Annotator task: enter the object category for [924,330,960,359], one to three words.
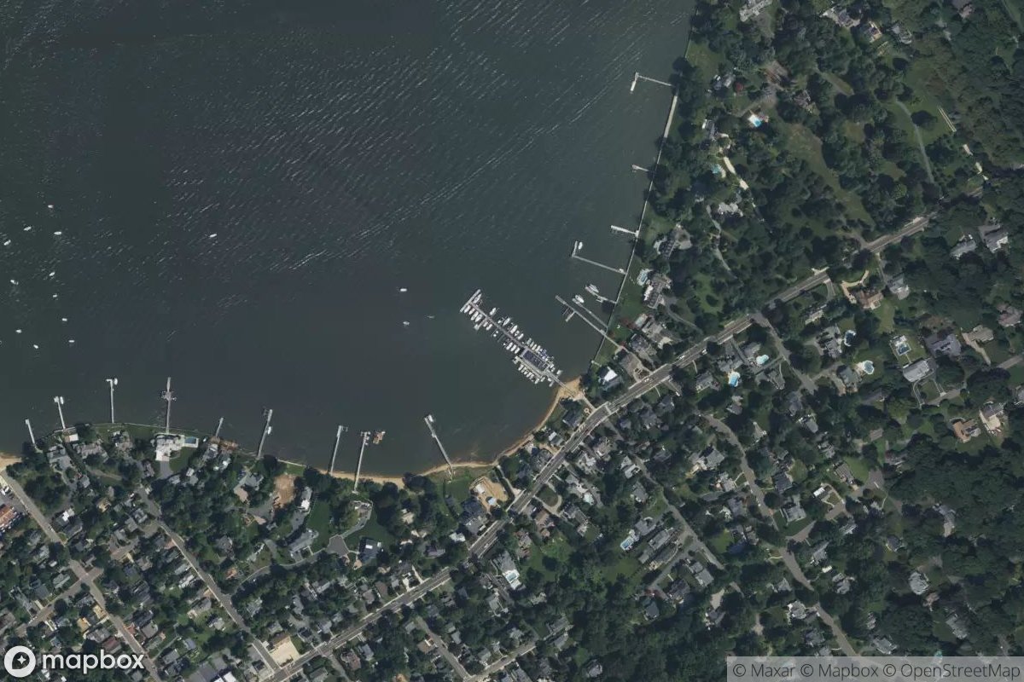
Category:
house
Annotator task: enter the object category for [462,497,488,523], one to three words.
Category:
house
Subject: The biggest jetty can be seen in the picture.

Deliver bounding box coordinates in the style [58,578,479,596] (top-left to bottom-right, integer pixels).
[460,290,576,398]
